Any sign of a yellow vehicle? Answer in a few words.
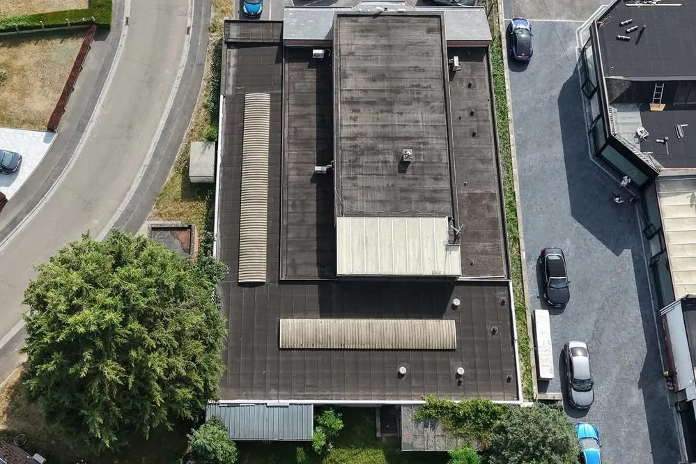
No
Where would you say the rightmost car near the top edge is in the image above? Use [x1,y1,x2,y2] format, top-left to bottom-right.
[509,19,534,61]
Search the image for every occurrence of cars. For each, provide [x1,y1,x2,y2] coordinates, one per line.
[242,0,262,19]
[541,248,572,307]
[575,420,603,464]
[509,19,534,61]
[0,148,22,174]
[564,343,597,408]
